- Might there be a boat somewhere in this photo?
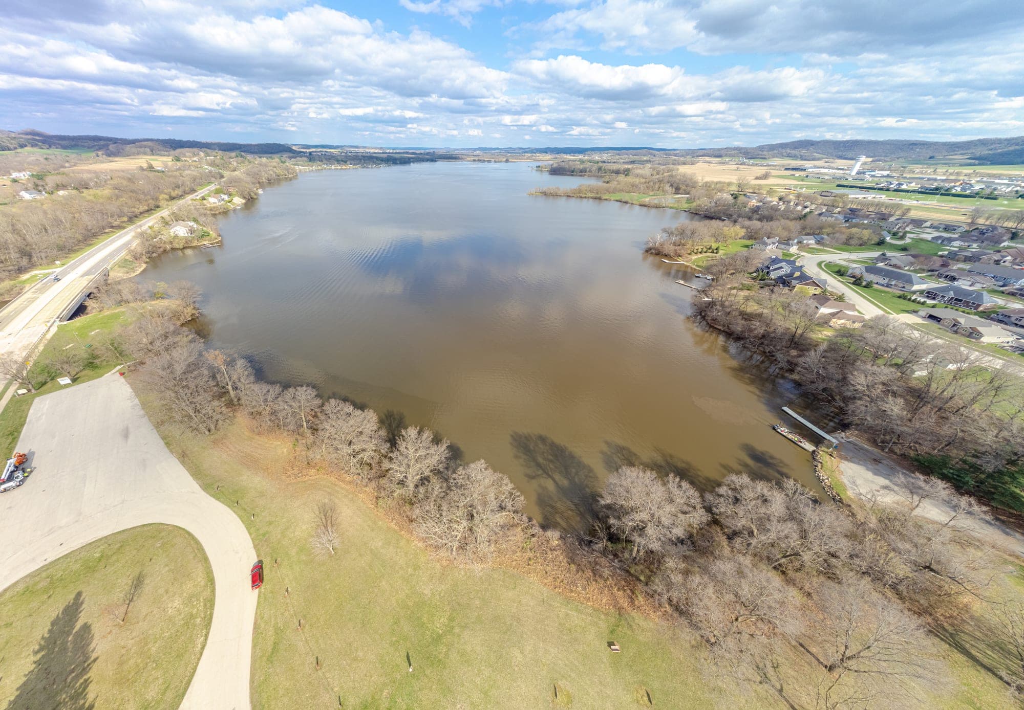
Yes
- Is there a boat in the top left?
No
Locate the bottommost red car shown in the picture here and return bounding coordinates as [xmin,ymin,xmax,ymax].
[247,561,265,590]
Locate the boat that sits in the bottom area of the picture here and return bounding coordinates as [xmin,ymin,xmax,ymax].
[772,419,815,451]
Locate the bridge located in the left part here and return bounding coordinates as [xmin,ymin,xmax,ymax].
[0,254,132,341]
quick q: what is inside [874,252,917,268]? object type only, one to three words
house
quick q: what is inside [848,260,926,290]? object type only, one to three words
house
